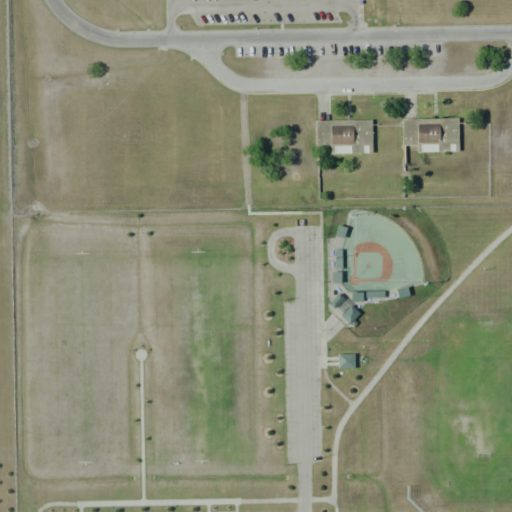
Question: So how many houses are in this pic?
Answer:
two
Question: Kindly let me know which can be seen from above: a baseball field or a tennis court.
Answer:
baseball field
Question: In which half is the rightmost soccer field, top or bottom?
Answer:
bottom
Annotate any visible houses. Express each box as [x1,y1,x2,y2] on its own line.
[404,118,461,152]
[317,120,374,154]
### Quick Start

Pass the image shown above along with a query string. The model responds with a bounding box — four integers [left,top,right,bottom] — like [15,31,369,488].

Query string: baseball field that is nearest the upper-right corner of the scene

[343,211,424,292]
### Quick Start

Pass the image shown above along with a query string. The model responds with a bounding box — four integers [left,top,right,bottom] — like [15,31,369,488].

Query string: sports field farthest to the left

[36,240,128,469]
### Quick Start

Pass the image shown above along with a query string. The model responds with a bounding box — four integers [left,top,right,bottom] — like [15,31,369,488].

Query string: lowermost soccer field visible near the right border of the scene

[448,322,512,455]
